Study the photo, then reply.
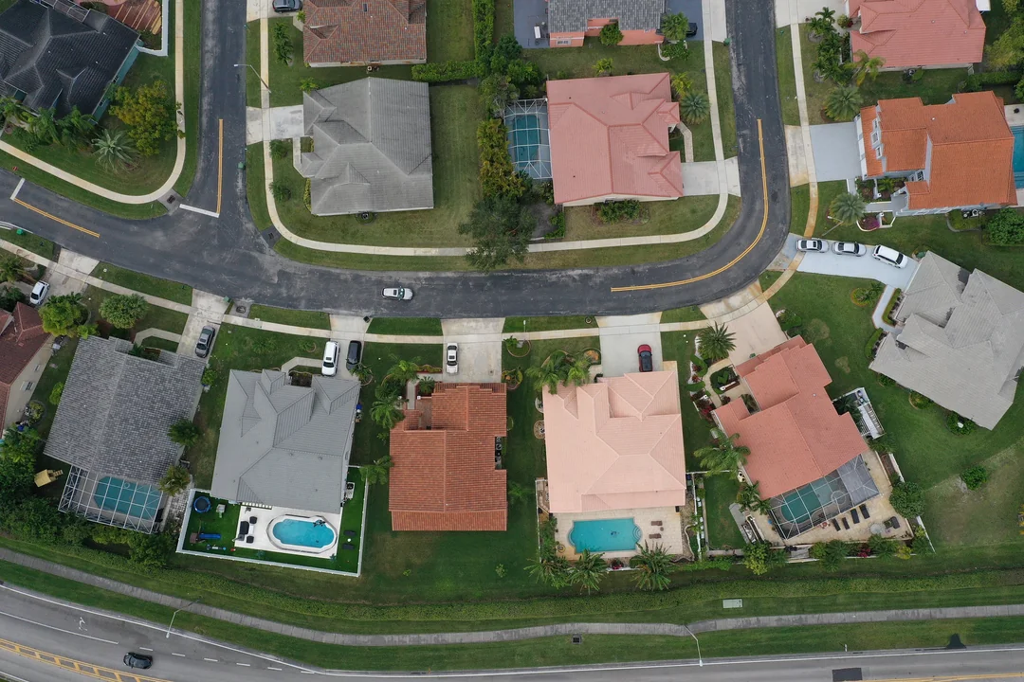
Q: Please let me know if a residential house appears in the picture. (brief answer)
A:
Yes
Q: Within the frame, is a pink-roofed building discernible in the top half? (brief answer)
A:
Yes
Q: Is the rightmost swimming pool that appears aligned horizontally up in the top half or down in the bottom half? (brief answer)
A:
bottom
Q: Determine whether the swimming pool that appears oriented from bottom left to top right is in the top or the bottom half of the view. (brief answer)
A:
bottom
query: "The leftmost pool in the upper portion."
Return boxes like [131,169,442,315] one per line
[513,111,543,169]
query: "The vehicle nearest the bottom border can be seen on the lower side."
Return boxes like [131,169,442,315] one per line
[122,651,155,669]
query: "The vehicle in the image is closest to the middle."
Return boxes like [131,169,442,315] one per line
[444,343,458,374]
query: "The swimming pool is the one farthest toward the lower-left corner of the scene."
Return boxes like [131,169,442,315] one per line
[91,475,165,522]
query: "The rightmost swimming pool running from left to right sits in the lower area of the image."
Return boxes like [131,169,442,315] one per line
[565,515,646,556]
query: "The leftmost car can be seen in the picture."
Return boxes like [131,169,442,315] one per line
[29,278,51,307]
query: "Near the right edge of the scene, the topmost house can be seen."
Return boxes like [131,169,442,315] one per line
[846,0,986,71]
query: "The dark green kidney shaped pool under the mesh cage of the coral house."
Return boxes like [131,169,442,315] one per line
[777,479,840,527]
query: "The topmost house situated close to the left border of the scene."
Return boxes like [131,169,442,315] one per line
[0,0,143,126]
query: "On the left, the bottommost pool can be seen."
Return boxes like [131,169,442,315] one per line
[267,513,341,554]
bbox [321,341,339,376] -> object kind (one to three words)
vehicle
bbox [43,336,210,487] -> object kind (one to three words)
house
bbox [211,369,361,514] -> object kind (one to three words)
house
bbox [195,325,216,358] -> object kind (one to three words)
car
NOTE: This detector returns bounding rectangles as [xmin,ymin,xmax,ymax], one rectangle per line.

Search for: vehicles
[638,344,652,372]
[195,325,216,358]
[321,341,339,376]
[270,0,301,12]
[872,244,907,267]
[345,341,362,370]
[381,286,414,301]
[29,278,51,307]
[833,242,865,256]
[122,651,155,669]
[444,343,458,374]
[797,238,828,252]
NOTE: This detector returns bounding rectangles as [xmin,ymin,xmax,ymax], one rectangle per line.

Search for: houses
[43,336,210,487]
[846,0,986,71]
[864,251,1024,430]
[548,0,662,42]
[855,91,1018,216]
[388,382,507,531]
[211,369,361,514]
[547,72,684,205]
[0,0,143,126]
[303,0,427,68]
[0,302,54,440]
[301,76,434,216]
[714,335,869,500]
[542,371,686,512]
